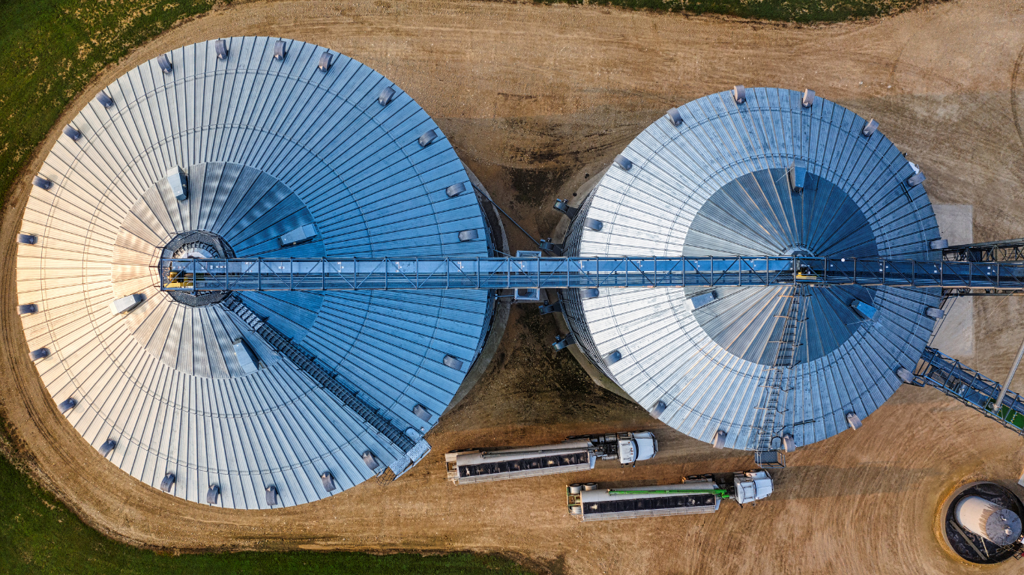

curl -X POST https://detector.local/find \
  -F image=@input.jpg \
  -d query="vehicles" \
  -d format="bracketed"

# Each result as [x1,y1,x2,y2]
[440,429,659,484]
[564,471,778,521]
